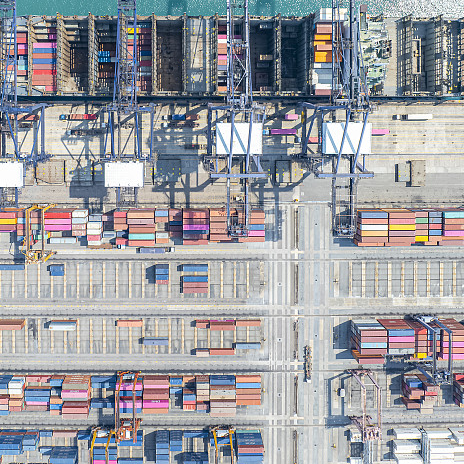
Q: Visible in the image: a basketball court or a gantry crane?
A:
gantry crane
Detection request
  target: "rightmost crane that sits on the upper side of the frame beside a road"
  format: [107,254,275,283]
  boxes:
[287,0,373,237]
